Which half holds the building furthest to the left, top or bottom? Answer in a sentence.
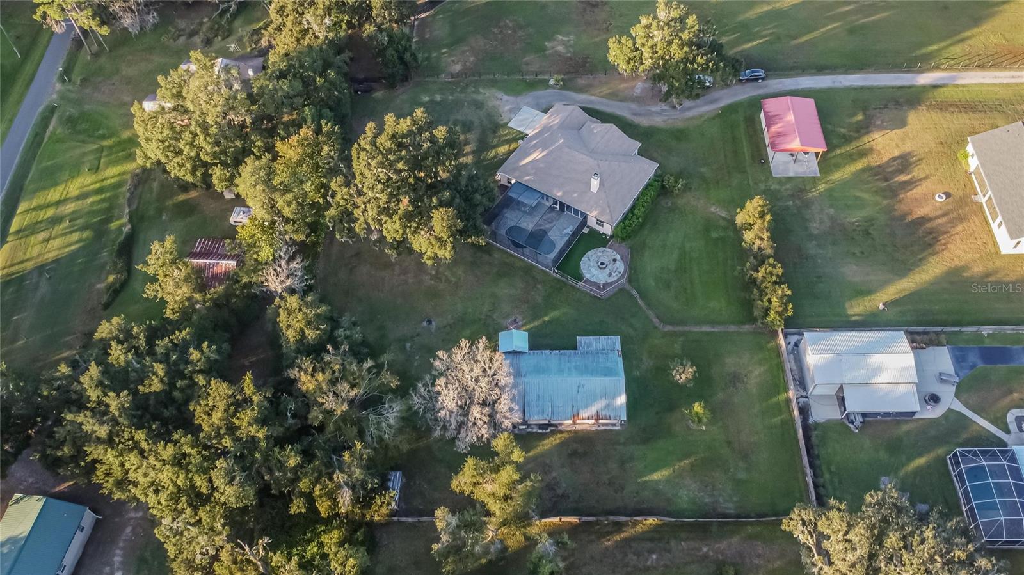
The building furthest to the left is in the bottom half of the image.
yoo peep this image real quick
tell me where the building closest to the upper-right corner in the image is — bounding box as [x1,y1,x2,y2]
[962,130,1024,255]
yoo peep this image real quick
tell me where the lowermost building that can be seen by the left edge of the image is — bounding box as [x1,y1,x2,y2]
[0,494,107,575]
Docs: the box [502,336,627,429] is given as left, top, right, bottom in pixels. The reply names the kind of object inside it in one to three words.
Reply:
barn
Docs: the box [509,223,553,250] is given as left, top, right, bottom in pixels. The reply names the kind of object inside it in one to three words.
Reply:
swimming pool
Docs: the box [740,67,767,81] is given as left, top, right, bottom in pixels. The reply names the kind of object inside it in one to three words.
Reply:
car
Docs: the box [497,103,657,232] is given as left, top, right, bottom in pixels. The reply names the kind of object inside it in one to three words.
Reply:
house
